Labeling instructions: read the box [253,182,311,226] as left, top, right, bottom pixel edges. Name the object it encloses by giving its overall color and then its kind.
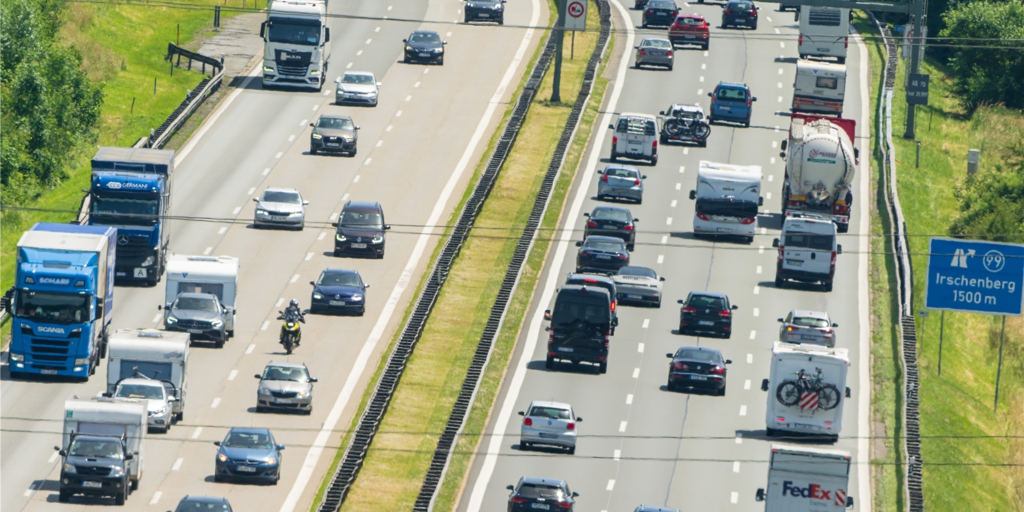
white car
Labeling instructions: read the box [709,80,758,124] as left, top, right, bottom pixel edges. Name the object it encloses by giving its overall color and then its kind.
blue van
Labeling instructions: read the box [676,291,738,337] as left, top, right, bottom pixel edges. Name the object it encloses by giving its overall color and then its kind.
black car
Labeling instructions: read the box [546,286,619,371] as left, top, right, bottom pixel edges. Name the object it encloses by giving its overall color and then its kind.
black van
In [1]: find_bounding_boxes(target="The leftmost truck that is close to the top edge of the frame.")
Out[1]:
[259,0,335,90]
